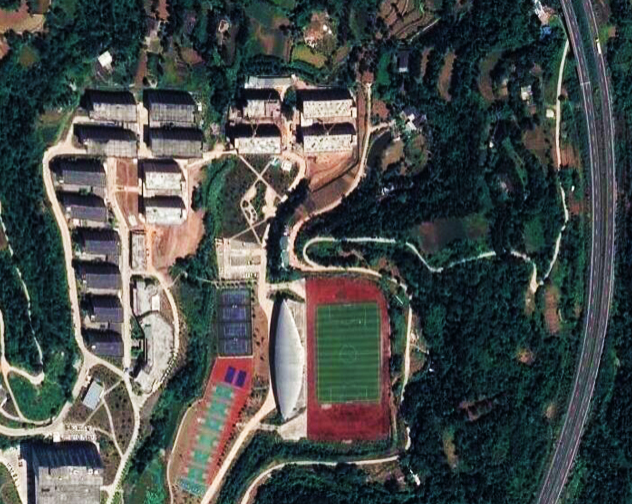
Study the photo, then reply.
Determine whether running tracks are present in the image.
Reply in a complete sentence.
Yes, there's a running track down there.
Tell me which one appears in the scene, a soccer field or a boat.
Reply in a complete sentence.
This aerial view contains a soccer field.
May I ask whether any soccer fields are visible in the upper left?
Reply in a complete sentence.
No, I see no soccer field in the upper left.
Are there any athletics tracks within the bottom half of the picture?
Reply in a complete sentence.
Yes, looking within the bottom half of the picture, one can make out an athletics track.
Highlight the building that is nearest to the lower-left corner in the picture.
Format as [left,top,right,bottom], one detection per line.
[33,449,104,504]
